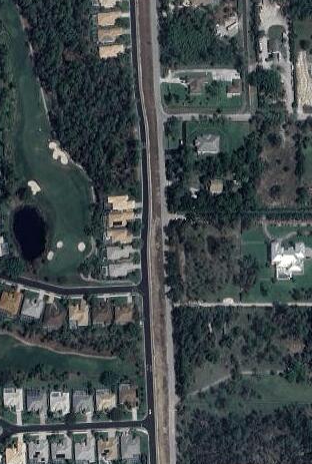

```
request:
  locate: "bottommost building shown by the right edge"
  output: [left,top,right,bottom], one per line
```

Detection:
[272,239,305,277]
